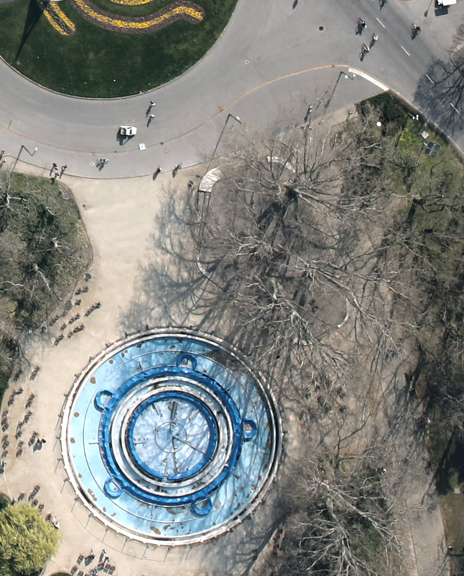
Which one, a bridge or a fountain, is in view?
fountain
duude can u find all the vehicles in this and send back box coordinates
[438,0,456,5]
[117,125,135,136]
